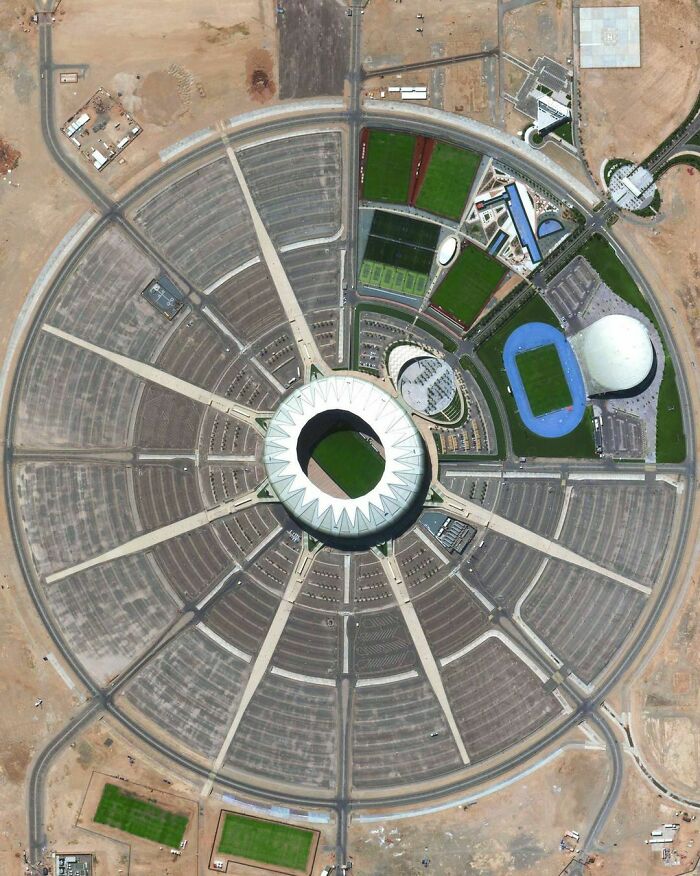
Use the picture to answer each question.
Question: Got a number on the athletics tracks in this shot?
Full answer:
Altogether the scene contains 1 athletics track.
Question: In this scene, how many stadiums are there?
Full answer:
There are 2 stadiums in the image.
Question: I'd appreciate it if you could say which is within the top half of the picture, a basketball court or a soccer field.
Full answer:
You can see a soccer field within the top half of the picture.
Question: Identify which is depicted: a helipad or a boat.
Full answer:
There is a helipad in the scene.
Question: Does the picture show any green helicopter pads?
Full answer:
No, no green helicopter pad is visible in the scene.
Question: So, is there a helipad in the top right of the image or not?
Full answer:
Yes, a helipad can be seen in the top right of the image.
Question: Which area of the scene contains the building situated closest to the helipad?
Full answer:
The building situated closest to the helipad appears toward the top right of the photo.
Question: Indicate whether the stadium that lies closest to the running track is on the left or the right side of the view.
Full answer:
The stadium that lies closest to the running track appears in the right half of the scene.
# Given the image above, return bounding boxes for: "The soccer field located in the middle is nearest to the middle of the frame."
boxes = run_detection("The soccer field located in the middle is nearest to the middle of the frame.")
[306,417,386,498]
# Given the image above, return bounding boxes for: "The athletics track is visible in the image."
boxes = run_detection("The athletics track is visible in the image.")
[502,323,586,437]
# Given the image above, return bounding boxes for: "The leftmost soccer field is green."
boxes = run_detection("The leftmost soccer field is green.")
[86,777,195,855]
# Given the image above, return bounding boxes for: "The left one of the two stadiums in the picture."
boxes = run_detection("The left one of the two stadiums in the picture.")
[264,375,427,536]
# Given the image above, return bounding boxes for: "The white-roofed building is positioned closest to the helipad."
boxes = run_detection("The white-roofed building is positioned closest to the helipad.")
[538,97,572,133]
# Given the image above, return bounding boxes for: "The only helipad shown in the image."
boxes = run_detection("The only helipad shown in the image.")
[579,7,640,68]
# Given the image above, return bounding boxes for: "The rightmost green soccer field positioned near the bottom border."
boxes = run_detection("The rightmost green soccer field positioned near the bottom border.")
[211,810,319,874]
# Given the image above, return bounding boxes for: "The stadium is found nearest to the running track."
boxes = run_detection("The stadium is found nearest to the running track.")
[568,317,658,397]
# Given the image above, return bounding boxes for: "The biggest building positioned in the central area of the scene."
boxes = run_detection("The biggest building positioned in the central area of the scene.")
[390,346,438,390]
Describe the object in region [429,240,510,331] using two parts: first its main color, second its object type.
green soccer field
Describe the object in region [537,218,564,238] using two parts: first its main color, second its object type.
blue swimming pool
